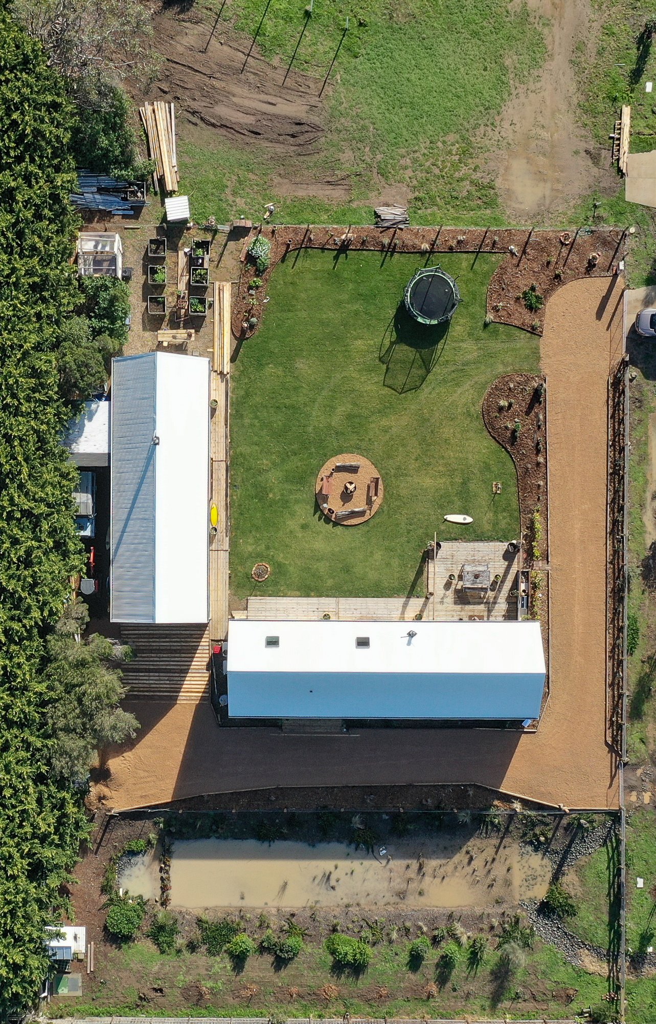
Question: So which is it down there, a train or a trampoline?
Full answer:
This aerial view contains a trampoline.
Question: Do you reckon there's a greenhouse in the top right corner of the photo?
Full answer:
No, no greenhouse appears in the top right corner of the photo.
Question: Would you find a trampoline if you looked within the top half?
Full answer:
Yes, a trampoline can be seen within the top half.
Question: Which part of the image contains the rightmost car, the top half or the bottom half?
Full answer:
It is in the top half that the rightmost car appears.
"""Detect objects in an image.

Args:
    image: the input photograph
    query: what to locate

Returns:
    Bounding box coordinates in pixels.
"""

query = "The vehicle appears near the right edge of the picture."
[632,308,656,339]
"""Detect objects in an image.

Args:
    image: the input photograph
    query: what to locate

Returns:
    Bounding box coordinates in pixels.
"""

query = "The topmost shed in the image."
[165,197,189,223]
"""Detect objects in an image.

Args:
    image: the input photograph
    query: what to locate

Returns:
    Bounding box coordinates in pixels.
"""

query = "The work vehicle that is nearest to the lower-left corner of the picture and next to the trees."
[78,550,102,591]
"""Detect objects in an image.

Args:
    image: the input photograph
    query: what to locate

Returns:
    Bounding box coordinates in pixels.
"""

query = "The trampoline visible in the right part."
[404,264,460,328]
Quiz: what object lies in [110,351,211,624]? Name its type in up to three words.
shed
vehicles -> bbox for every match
[632,308,656,339]
[78,550,102,591]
